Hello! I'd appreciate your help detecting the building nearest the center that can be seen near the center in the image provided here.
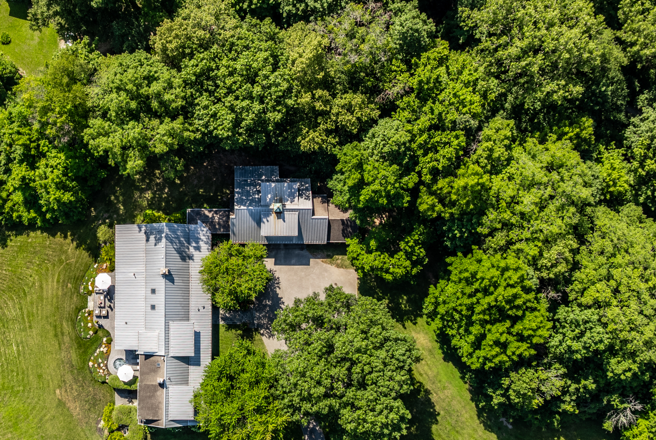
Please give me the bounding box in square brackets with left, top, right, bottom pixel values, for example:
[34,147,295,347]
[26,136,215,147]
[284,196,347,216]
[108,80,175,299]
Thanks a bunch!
[230,165,360,244]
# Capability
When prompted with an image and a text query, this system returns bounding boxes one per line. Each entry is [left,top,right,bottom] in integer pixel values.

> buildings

[114,222,213,428]
[230,165,360,244]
